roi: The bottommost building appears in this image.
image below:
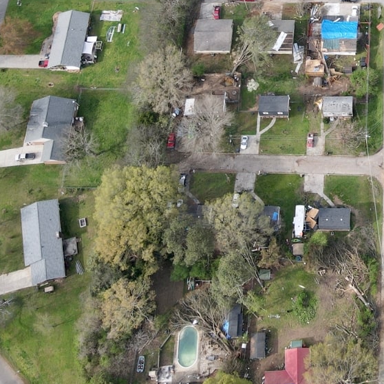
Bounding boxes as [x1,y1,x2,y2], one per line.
[264,349,335,384]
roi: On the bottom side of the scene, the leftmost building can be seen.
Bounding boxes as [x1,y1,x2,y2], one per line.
[22,198,68,285]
